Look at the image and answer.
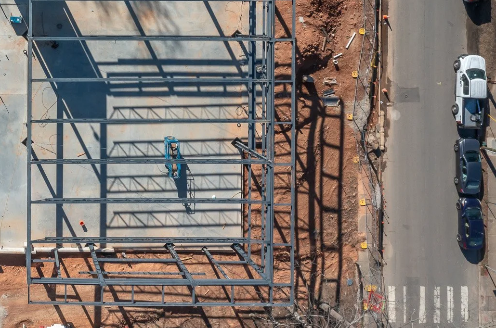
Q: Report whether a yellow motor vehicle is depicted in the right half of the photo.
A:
No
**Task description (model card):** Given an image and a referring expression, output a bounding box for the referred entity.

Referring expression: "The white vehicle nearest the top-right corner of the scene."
[454,55,489,125]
